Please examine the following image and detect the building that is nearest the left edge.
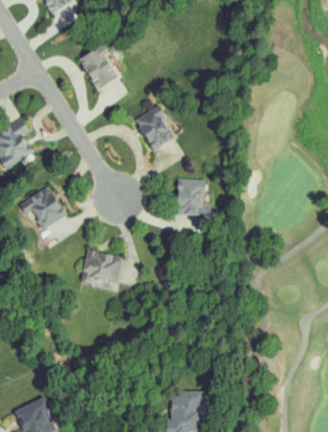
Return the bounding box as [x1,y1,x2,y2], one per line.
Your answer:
[0,118,29,170]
